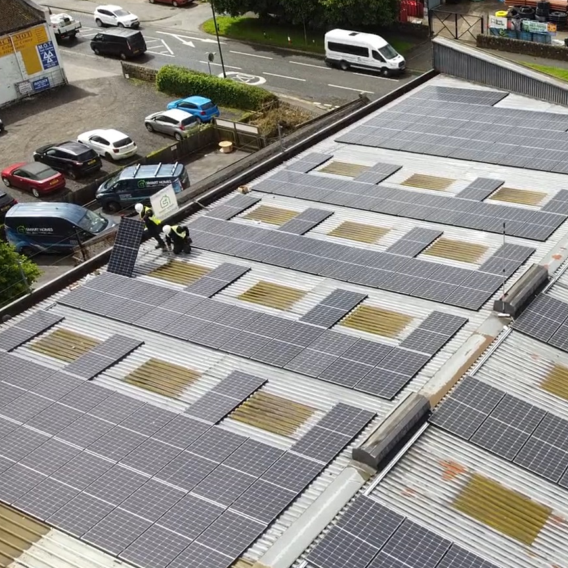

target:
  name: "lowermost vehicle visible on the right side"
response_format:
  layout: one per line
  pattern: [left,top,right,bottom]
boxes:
[324,30,405,75]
